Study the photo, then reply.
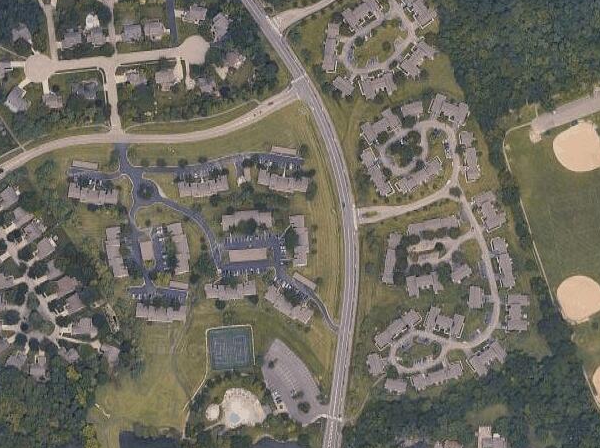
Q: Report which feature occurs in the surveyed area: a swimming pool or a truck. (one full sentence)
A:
Of the two, only a swimming pool appears.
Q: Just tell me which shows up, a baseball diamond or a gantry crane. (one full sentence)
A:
Looking from above, you can make out a baseball diamond.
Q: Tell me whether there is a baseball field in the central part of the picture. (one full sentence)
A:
No, the scene shows no baseball field in the central part of the picture.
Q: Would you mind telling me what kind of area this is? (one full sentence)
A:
The area seen from above is a residential area.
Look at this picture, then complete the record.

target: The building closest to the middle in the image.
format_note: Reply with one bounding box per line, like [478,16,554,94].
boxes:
[289,215,309,266]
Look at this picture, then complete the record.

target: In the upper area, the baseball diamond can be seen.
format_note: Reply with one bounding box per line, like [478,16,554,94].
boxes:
[551,121,600,173]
